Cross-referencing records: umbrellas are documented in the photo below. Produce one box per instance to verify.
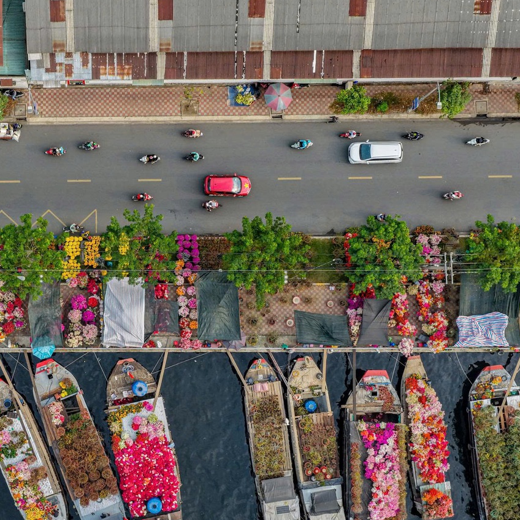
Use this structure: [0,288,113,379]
[264,84,292,113]
[31,339,55,363]
[222,332,244,353]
